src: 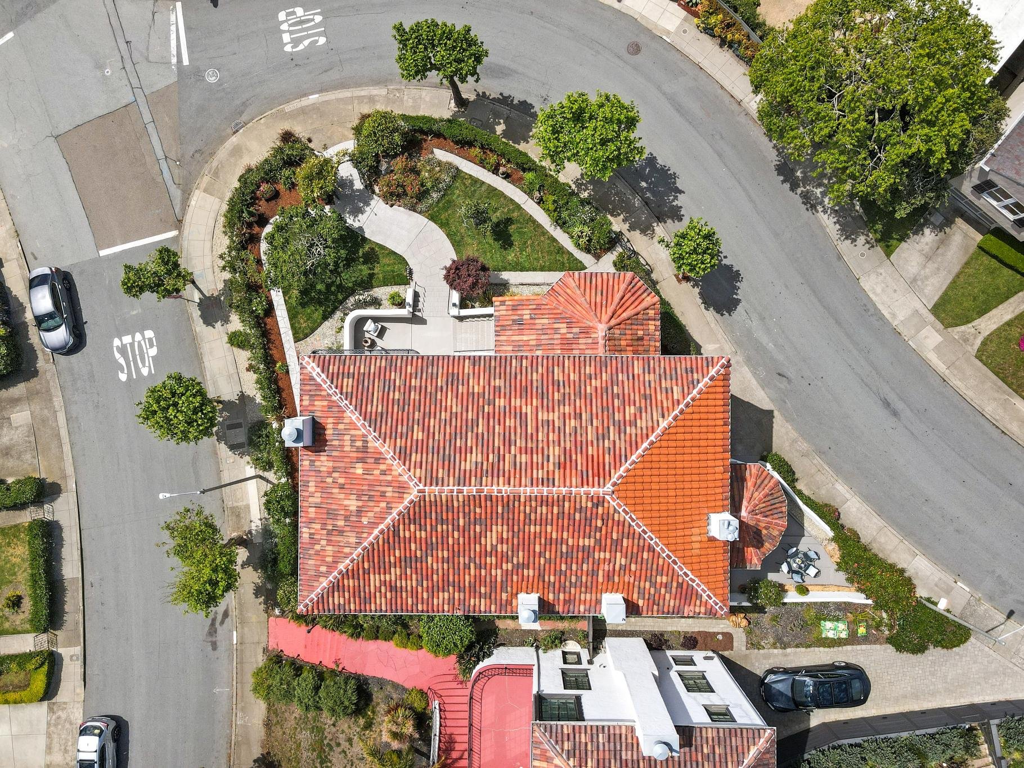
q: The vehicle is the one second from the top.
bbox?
[757,657,870,715]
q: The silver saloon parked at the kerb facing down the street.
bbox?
[27,263,82,355]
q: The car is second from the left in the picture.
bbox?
[71,713,123,768]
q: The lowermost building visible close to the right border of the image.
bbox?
[949,96,1024,245]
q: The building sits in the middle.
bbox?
[281,269,790,624]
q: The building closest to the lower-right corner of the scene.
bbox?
[529,638,780,768]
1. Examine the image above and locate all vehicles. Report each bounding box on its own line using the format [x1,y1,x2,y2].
[757,657,870,715]
[71,713,123,768]
[27,263,82,355]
